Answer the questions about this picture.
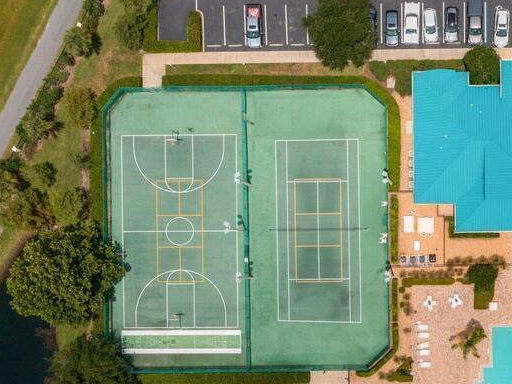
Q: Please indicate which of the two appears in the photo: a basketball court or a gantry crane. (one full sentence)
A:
This aerial view contains a basketball court.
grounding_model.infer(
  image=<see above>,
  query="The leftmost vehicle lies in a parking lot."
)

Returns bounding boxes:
[245,4,263,49]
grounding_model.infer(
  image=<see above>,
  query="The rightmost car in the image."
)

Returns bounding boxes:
[494,7,510,48]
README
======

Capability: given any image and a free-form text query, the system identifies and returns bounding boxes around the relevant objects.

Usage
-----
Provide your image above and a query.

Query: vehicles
[403,2,420,45]
[467,0,484,46]
[494,7,510,48]
[366,7,379,43]
[424,8,439,44]
[245,4,263,49]
[444,7,459,44]
[385,10,400,47]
